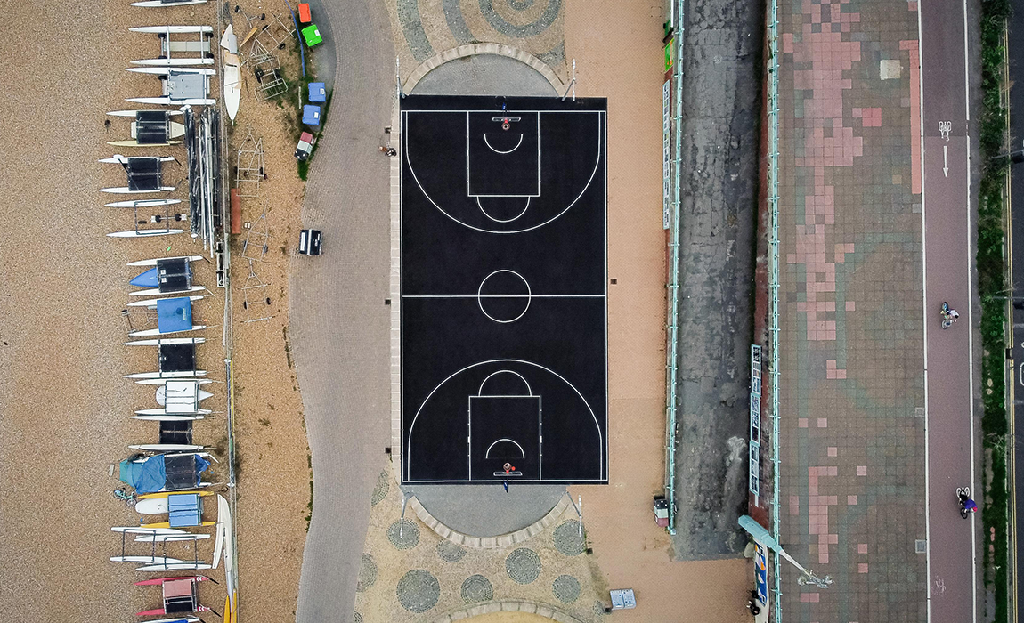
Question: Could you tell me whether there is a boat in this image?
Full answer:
Yes, this view includes a boat.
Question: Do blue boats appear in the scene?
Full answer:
Yes, looking at the shot, I can spot a blue boat.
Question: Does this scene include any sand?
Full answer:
Yes, the picture does contain sand.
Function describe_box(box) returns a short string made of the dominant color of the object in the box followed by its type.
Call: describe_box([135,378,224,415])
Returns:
white boat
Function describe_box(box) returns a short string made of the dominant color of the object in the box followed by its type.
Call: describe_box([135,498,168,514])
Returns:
white boat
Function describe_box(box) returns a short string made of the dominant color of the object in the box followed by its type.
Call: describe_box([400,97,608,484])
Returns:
black basketball court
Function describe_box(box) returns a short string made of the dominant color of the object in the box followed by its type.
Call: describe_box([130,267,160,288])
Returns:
blue boat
